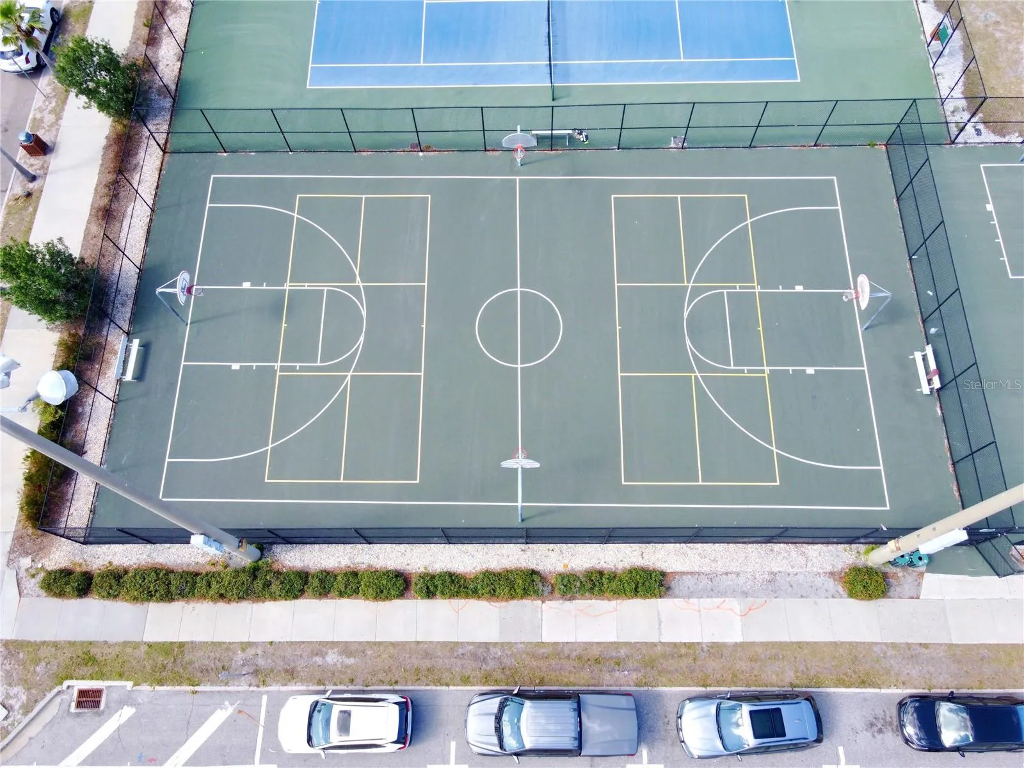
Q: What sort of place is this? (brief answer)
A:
sports ground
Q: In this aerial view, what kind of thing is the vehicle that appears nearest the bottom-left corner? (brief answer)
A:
car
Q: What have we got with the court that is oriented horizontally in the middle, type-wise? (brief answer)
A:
basketball court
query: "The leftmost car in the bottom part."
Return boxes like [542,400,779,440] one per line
[279,686,414,763]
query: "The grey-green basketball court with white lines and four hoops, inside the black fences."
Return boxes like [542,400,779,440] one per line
[91,145,971,541]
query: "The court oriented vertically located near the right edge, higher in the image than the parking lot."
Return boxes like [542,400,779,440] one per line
[889,142,1024,542]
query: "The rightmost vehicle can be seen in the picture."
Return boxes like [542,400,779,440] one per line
[892,688,1024,763]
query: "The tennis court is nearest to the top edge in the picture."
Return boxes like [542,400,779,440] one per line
[166,0,950,153]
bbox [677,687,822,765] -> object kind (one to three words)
car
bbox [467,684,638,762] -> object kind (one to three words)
truck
